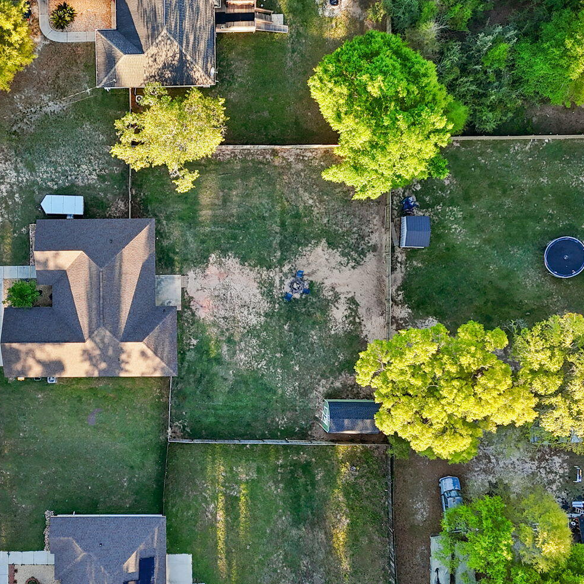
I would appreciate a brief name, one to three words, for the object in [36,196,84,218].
trailer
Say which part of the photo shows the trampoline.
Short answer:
right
